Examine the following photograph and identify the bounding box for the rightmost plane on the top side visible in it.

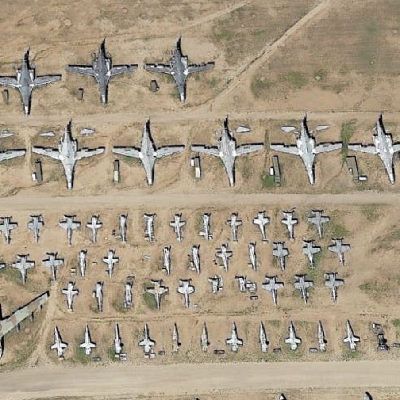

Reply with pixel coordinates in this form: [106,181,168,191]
[351,113,400,184]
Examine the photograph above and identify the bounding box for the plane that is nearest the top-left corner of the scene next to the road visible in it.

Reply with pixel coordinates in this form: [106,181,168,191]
[0,47,64,116]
